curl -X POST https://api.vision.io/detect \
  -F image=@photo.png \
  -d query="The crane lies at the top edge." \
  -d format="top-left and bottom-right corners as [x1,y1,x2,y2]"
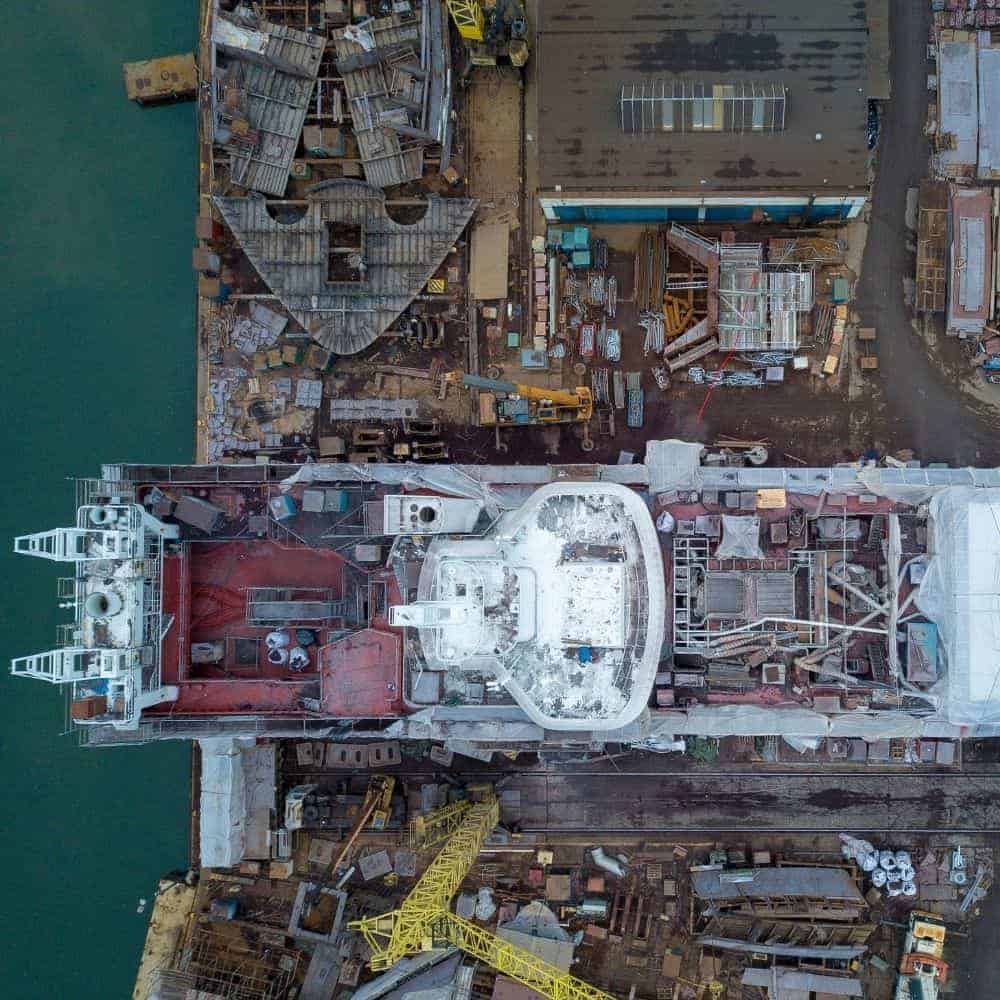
[443,0,529,74]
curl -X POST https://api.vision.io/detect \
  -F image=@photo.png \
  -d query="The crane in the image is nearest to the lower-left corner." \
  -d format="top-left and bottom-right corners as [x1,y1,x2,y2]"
[331,771,399,875]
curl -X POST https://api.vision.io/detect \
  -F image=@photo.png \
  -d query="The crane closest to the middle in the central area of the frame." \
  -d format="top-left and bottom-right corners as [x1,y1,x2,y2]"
[440,361,594,453]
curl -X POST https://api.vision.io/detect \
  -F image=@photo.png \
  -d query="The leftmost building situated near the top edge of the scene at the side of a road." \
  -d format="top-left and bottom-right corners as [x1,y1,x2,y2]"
[538,0,868,227]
